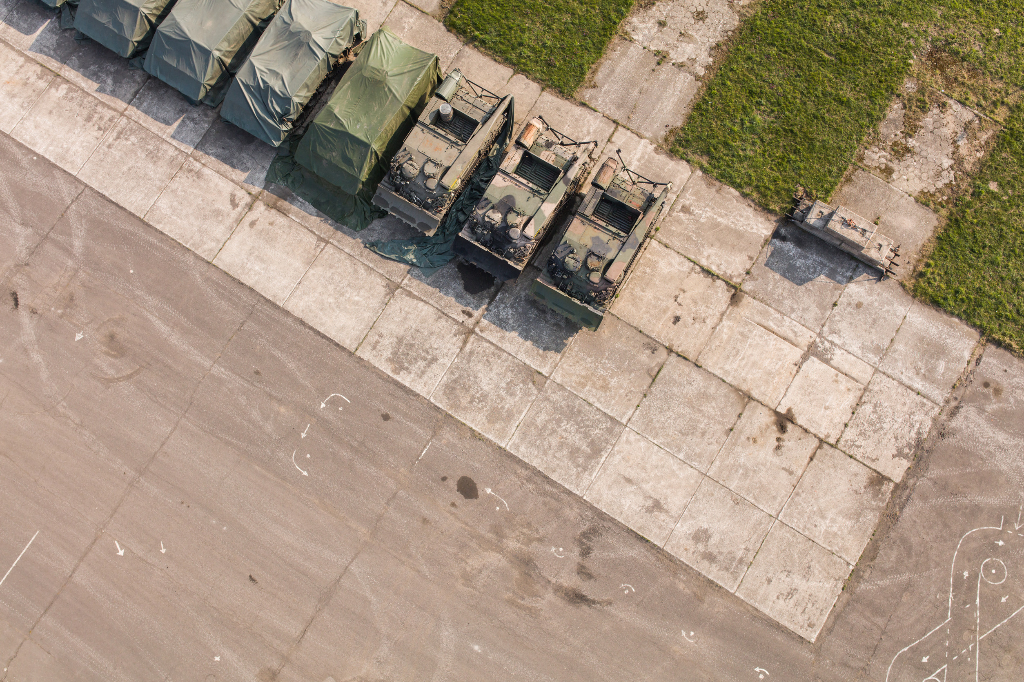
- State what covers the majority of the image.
paved ground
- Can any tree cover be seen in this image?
No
